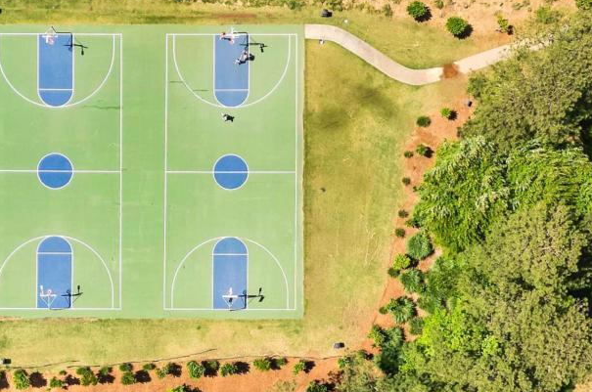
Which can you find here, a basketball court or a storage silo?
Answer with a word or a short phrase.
basketball court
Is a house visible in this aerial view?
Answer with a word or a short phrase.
No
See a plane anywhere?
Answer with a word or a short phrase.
No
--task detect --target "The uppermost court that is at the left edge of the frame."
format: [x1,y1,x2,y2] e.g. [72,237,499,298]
[0,24,144,319]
